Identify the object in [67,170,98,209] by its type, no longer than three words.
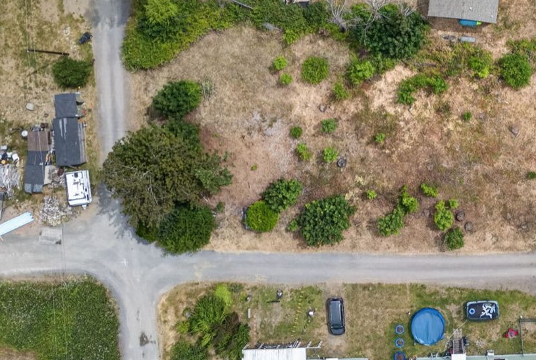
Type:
trailer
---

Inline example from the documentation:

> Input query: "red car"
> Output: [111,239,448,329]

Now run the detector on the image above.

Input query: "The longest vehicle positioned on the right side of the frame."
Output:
[326,298,344,337]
